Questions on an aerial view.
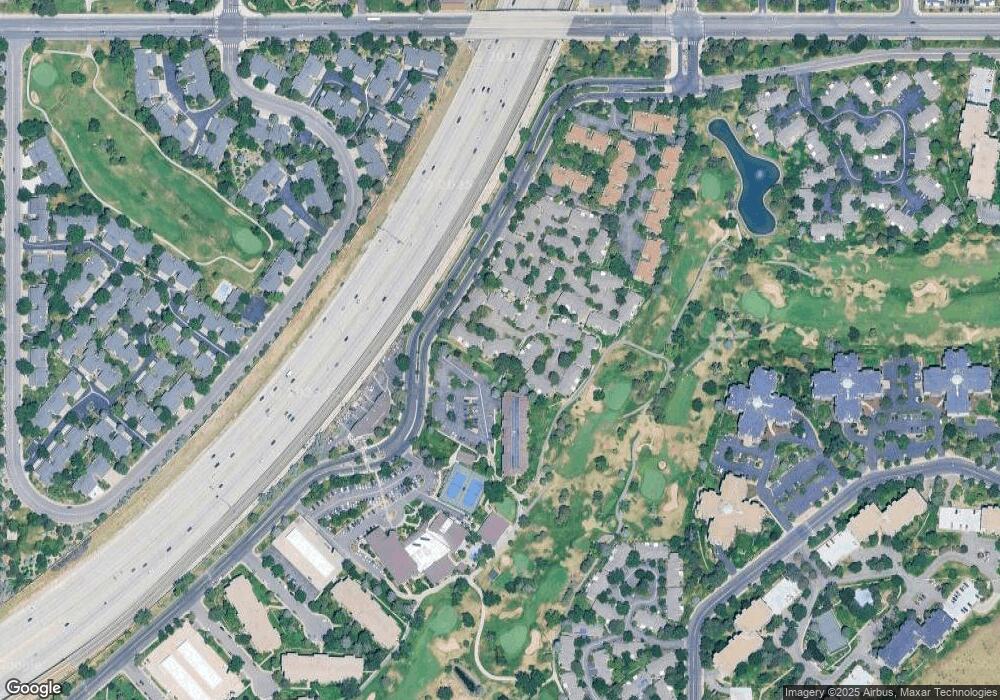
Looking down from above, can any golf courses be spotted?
Yes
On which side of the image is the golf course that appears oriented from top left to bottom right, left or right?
left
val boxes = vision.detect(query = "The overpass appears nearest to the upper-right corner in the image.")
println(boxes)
[465,12,575,41]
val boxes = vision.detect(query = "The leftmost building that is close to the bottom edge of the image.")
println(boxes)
[143,622,245,700]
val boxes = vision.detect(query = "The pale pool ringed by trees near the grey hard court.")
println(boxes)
[855,588,873,606]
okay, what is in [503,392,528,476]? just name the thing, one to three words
building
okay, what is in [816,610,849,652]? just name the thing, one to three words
sports court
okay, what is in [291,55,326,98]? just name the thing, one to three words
house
